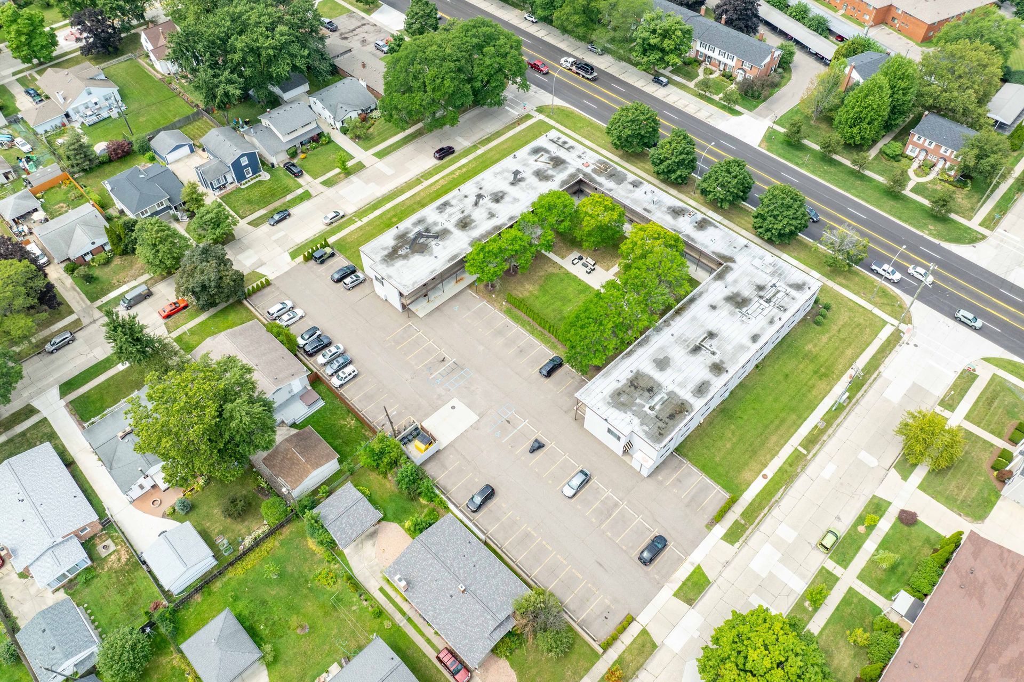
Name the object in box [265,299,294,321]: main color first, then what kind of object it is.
white car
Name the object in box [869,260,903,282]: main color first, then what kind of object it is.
white truck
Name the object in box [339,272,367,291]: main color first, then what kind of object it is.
white car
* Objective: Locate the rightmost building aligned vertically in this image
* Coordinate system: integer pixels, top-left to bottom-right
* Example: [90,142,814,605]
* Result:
[995,456,1024,521]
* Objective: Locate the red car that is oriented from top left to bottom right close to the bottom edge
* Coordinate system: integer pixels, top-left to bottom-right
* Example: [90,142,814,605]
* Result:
[436,646,471,682]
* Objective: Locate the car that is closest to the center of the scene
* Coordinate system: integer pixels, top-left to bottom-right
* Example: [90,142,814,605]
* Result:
[538,356,564,378]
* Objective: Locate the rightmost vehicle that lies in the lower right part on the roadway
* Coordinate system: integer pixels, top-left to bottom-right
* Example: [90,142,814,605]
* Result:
[817,528,841,553]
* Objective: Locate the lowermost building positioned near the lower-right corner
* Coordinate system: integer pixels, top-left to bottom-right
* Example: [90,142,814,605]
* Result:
[876,530,1024,682]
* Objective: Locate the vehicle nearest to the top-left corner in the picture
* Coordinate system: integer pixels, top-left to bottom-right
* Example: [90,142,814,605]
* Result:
[24,89,40,102]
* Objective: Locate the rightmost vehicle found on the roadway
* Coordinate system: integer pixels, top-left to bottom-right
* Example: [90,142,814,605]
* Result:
[953,308,985,331]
